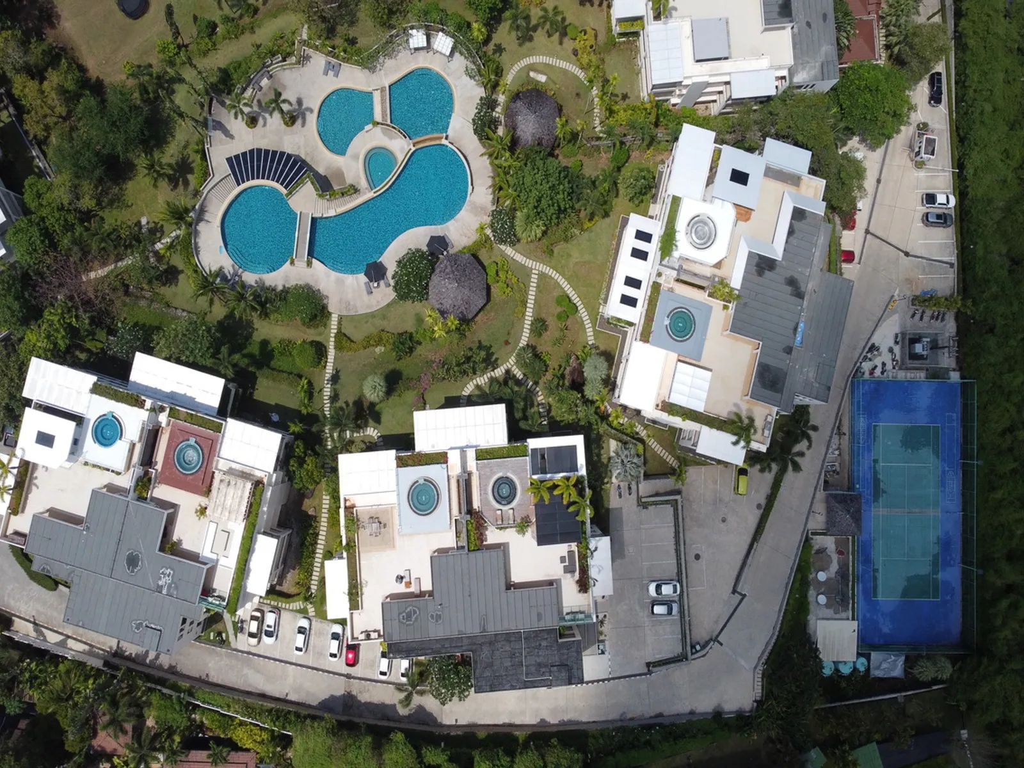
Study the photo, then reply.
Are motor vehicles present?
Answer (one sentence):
Yes, the image includes a motor vehicle.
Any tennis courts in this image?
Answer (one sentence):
Yes, this view includes a tennis court.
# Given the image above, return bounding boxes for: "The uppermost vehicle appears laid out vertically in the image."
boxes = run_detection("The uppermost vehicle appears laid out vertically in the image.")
[929,67,948,106]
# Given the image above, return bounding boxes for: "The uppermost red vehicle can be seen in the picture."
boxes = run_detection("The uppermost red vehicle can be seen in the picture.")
[832,214,859,229]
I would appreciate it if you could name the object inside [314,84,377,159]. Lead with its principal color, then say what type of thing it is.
blue swimming pool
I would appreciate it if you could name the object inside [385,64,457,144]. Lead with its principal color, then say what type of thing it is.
blue swimming pool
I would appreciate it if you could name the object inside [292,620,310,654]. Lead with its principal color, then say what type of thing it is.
white car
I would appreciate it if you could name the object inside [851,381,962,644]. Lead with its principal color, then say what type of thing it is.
blue tennis court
